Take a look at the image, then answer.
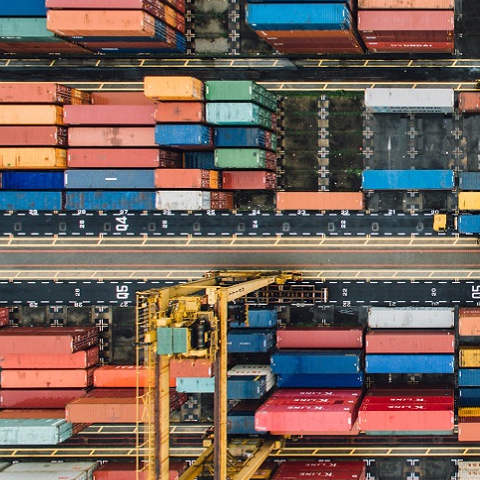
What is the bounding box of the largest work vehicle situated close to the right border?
[431,212,468,234]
